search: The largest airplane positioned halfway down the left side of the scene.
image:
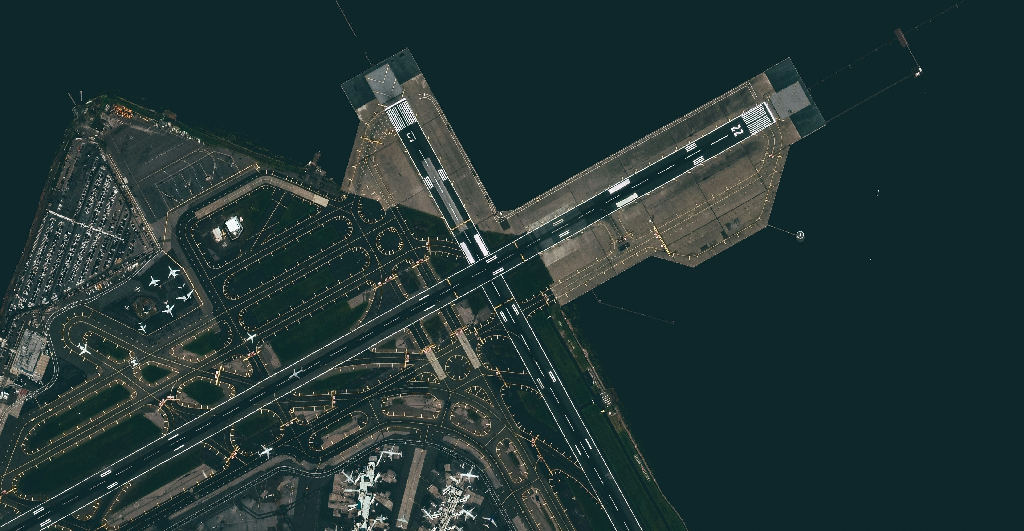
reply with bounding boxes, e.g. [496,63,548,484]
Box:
[176,284,194,308]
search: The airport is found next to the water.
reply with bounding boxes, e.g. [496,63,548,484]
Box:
[0,47,826,531]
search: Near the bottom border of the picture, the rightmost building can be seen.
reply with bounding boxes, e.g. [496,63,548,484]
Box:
[431,475,470,531]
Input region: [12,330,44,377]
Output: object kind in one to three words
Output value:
building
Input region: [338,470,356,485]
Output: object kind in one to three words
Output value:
airplane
